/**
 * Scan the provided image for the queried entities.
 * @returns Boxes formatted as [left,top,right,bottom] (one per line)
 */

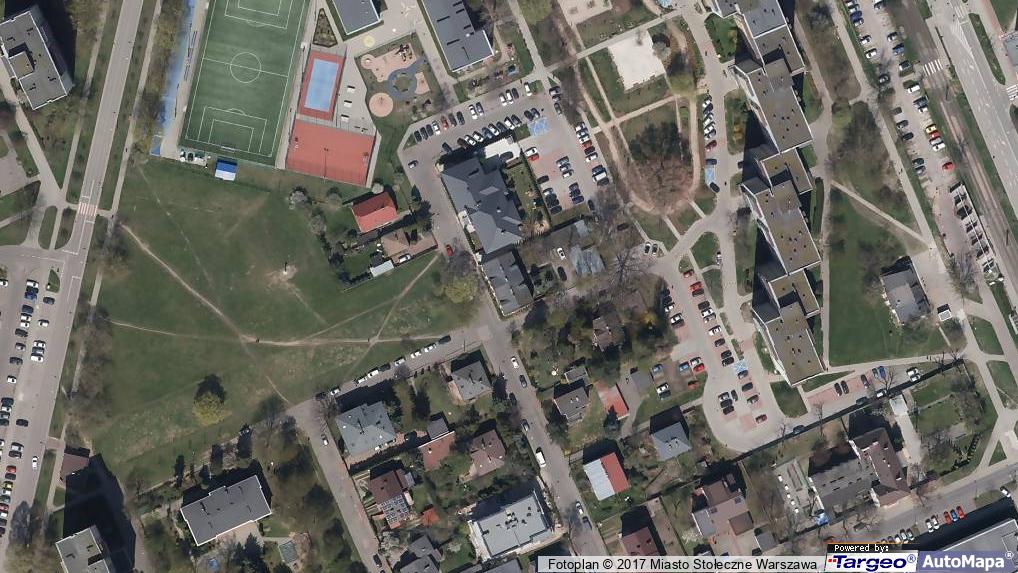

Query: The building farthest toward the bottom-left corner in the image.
[57,516,123,573]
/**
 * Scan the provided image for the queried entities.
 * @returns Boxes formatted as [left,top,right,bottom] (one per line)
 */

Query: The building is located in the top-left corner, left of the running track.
[0,11,79,108]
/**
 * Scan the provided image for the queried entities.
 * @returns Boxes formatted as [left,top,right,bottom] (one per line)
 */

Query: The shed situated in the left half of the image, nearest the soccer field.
[215,161,238,181]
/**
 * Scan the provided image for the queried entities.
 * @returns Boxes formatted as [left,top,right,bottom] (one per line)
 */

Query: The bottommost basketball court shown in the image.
[286,119,375,186]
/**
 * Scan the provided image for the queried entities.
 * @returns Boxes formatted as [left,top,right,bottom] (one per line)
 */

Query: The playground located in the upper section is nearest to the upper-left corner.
[361,42,429,117]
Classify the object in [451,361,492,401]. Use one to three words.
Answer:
house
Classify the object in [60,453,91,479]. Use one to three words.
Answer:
building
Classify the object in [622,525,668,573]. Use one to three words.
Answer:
house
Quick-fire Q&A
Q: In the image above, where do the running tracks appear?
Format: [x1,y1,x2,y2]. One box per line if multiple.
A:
[151,0,195,157]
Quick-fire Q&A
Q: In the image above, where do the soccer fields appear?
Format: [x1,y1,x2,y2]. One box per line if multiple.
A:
[177,0,310,167]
